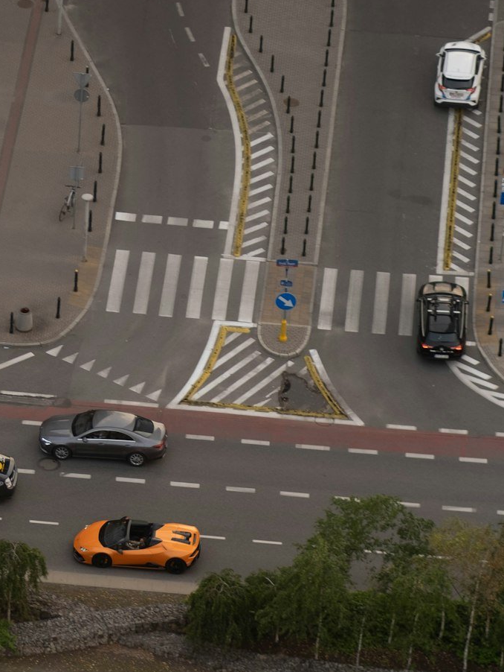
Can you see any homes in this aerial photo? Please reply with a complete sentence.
No, the photo shows no home.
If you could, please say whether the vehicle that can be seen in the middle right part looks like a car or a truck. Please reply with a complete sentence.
It turns out the vehicle that can be seen in the middle right part is a car.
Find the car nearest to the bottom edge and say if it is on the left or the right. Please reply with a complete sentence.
You can find the car nearest to the bottom edge on the left side of the picture.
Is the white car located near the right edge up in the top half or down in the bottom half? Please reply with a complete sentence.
You can find the white car located near the right edge in the top half.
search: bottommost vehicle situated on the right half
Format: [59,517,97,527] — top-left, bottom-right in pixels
[417,289,471,363]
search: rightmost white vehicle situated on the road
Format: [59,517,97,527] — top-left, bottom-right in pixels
[436,42,488,107]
